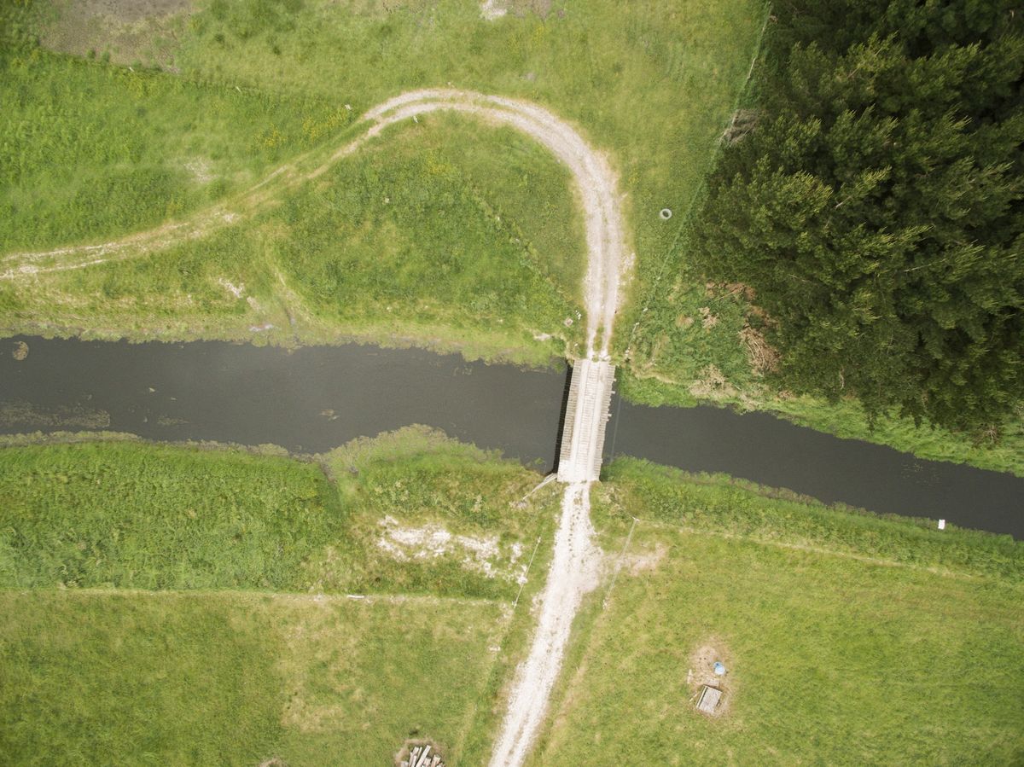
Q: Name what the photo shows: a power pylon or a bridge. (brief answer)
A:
bridge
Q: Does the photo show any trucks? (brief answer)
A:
No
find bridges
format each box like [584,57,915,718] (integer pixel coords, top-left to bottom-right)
[556,358,617,486]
